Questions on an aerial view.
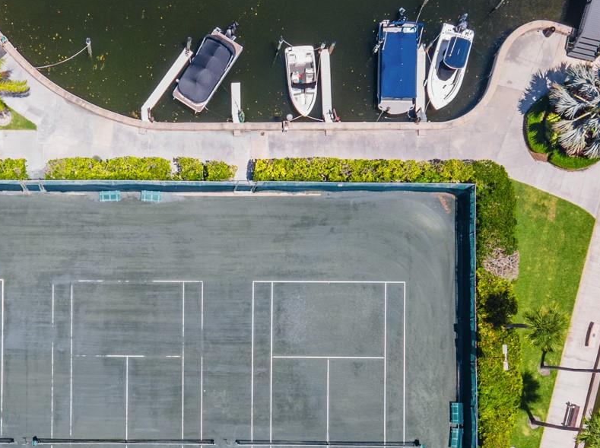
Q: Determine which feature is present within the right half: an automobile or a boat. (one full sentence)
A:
The feature located within the right half is a boat.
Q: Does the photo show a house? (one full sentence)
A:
No, there's no house here.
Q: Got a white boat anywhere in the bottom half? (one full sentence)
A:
No, there's no white boat to be seen in the bottom half.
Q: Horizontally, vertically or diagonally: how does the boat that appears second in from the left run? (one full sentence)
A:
In this picture, the boat that appears second in from the left lies vertically.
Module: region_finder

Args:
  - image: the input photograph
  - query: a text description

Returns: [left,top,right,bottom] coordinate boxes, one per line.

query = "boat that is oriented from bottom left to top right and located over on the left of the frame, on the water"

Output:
[171,25,244,114]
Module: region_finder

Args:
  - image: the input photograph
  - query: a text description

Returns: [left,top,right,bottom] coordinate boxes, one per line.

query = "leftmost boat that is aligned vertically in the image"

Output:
[288,42,320,114]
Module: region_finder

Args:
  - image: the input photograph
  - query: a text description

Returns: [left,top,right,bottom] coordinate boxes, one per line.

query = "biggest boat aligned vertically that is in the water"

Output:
[378,5,425,115]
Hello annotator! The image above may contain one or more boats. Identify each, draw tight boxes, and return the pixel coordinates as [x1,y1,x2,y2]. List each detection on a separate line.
[171,25,244,114]
[288,42,320,114]
[430,13,478,108]
[378,5,425,115]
